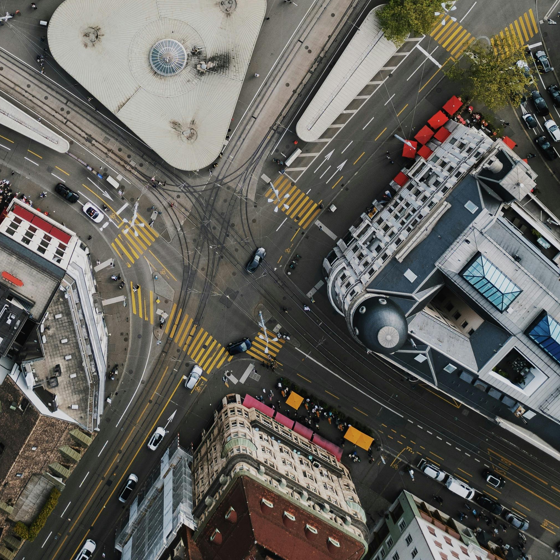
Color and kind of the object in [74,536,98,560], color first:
white car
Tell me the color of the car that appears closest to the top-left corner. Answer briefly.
black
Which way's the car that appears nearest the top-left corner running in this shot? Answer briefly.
at an angle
